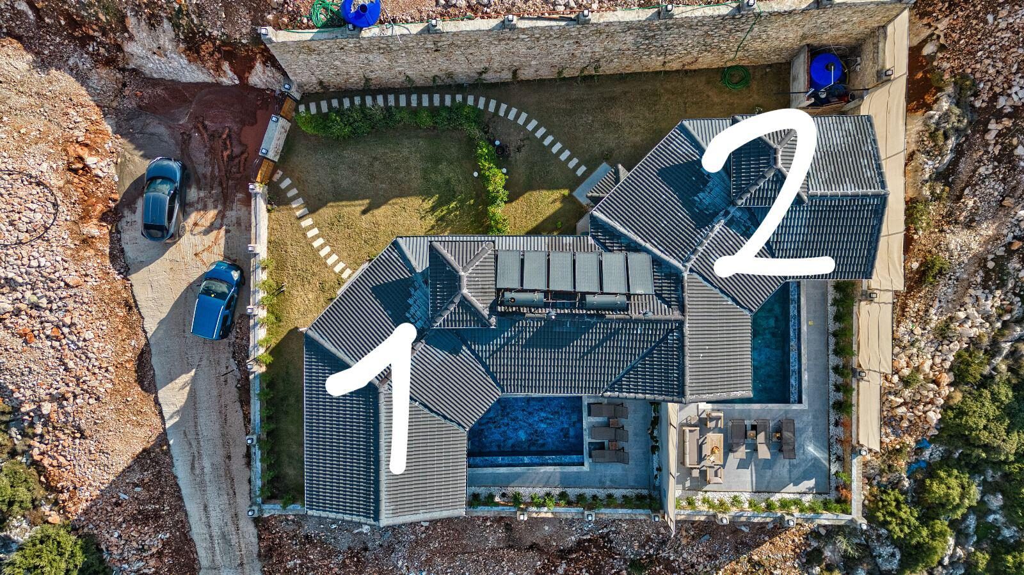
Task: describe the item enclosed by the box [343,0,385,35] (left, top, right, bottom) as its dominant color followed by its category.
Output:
blue water tank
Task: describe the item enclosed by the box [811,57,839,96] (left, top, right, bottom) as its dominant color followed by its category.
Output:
blue water tank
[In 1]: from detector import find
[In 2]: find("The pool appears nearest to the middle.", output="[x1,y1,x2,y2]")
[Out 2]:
[466,396,588,472]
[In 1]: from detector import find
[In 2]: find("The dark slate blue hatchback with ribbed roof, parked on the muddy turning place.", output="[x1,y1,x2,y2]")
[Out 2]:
[139,157,190,246]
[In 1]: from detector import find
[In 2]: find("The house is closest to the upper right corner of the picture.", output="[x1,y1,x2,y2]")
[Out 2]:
[583,112,890,405]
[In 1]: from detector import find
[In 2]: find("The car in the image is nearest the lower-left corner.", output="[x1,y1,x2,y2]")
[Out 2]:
[192,258,248,346]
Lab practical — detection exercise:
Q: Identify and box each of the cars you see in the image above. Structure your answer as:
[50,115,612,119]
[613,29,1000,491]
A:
[192,258,248,346]
[139,157,190,246]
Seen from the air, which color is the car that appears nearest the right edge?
blue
